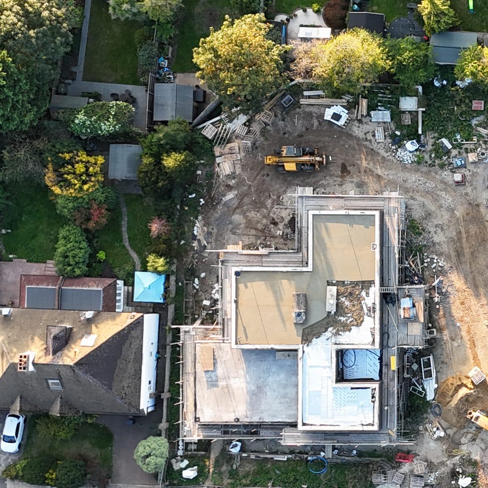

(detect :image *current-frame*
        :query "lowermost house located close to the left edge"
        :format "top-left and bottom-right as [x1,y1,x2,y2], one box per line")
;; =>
[0,306,157,416]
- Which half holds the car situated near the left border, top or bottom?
bottom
